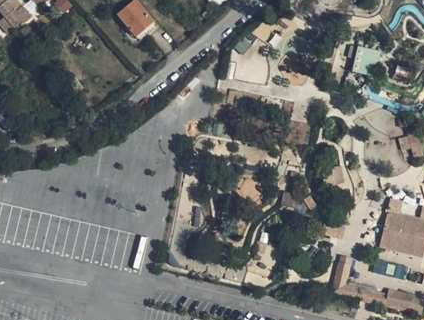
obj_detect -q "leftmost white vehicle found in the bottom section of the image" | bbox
[133,236,148,270]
